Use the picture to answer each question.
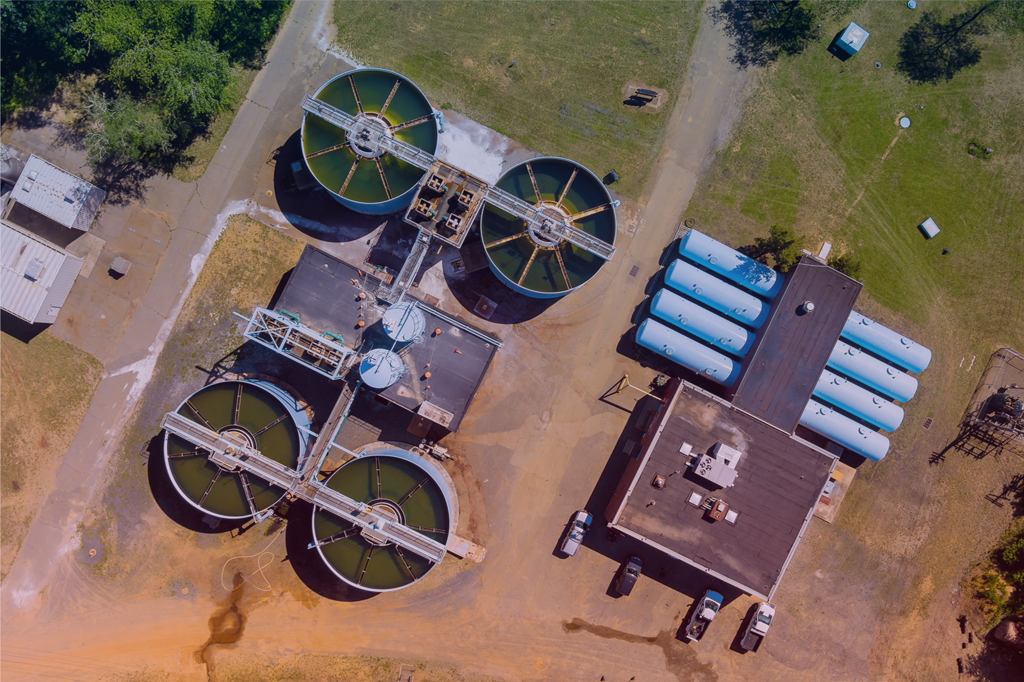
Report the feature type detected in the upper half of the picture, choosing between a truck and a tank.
tank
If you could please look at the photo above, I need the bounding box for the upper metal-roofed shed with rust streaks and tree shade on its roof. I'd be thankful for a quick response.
[9,153,107,230]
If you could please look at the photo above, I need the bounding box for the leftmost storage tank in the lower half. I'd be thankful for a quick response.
[156,372,322,523]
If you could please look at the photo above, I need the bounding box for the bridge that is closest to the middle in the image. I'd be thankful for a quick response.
[484,183,617,260]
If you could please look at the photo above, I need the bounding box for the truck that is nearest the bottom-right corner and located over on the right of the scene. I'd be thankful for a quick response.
[737,599,778,655]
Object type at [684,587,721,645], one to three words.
truck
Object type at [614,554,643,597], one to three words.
car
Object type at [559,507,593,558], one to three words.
truck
